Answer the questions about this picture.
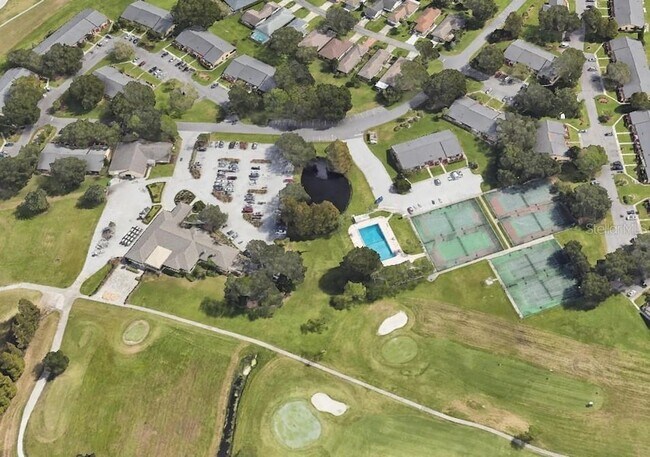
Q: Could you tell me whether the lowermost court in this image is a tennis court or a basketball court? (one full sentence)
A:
The lowermost court in the image is a tennis court.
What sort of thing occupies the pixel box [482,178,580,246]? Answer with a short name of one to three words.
tennis court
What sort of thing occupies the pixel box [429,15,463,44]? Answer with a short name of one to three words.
house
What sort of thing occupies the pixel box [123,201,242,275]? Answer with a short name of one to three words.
building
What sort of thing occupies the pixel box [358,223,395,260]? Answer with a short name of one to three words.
swimming pool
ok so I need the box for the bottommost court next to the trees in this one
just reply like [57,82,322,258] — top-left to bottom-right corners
[487,240,583,316]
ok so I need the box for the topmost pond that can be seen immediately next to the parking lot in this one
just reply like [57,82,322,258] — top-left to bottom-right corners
[301,158,352,209]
